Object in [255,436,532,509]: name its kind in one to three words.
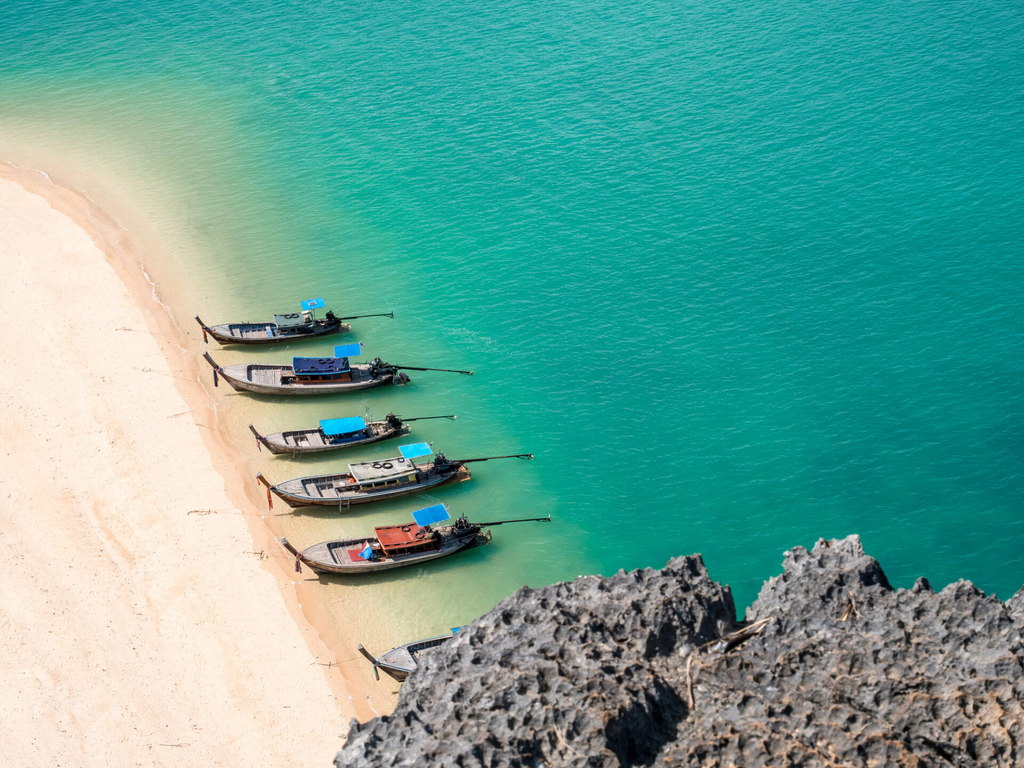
boat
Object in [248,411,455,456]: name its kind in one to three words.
boat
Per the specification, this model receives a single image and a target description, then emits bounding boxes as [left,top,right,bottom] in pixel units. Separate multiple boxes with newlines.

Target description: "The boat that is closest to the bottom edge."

[358,622,480,682]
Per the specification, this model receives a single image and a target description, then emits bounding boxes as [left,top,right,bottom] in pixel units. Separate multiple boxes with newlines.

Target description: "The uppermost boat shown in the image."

[194,298,393,348]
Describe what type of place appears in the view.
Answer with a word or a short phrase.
beach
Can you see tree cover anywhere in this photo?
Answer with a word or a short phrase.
No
